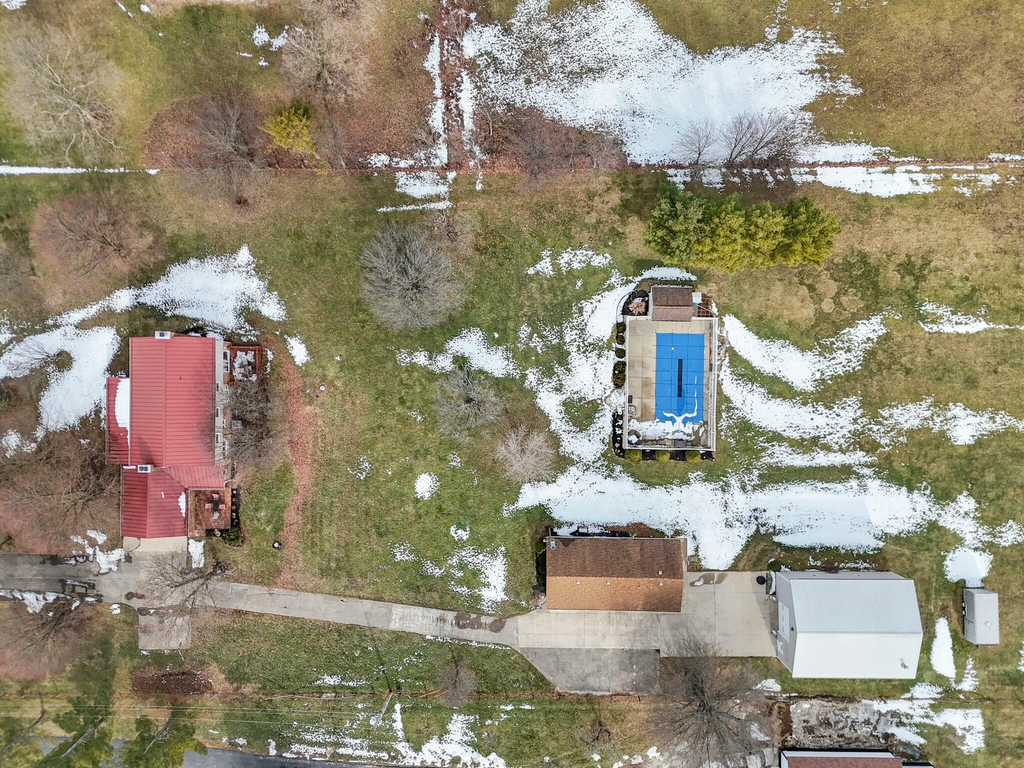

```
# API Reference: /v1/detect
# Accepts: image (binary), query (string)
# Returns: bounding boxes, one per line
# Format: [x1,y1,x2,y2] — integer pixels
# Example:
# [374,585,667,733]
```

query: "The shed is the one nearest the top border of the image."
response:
[649,286,695,321]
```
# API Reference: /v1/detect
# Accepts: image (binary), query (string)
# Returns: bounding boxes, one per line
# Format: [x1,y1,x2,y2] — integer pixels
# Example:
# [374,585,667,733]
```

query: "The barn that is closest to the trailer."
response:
[775,572,923,678]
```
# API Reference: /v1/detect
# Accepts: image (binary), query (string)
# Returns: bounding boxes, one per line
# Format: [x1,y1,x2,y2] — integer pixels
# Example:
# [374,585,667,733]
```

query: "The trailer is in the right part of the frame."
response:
[961,589,999,647]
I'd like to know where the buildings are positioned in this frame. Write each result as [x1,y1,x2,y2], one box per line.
[775,572,923,678]
[649,286,695,321]
[779,748,928,768]
[546,535,686,613]
[105,331,233,539]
